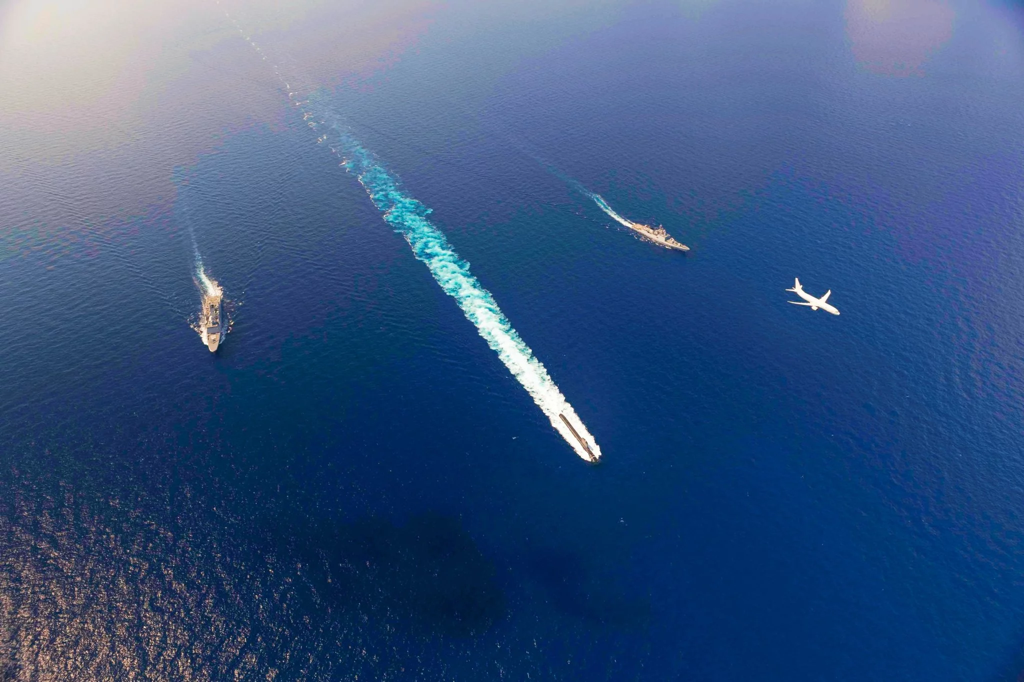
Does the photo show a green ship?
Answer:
No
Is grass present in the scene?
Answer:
No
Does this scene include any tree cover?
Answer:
No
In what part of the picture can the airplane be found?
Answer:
right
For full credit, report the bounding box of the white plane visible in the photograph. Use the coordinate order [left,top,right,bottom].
[786,278,840,315]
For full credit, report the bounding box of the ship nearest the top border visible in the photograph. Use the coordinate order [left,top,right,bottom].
[631,220,690,253]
